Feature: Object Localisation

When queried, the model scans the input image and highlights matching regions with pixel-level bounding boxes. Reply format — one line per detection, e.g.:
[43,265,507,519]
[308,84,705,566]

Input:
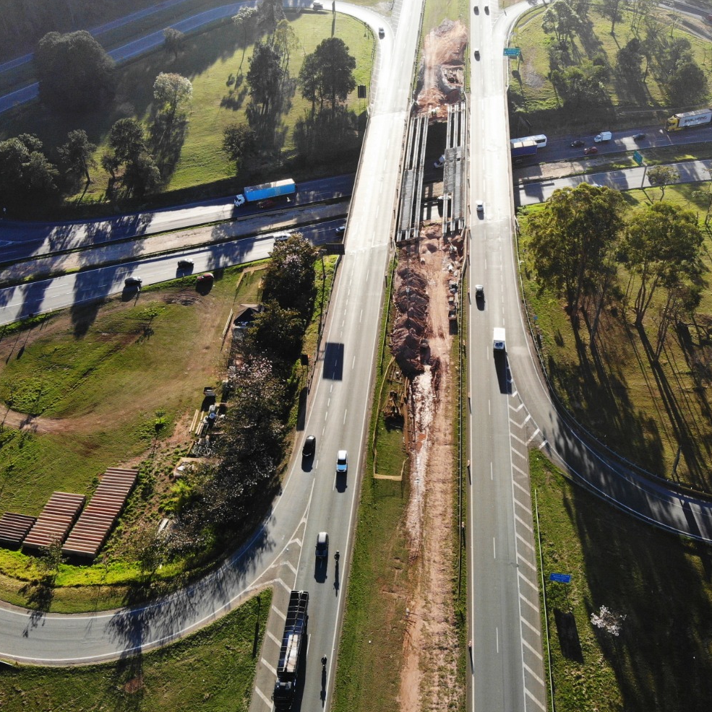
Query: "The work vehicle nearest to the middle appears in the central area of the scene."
[383,389,408,427]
